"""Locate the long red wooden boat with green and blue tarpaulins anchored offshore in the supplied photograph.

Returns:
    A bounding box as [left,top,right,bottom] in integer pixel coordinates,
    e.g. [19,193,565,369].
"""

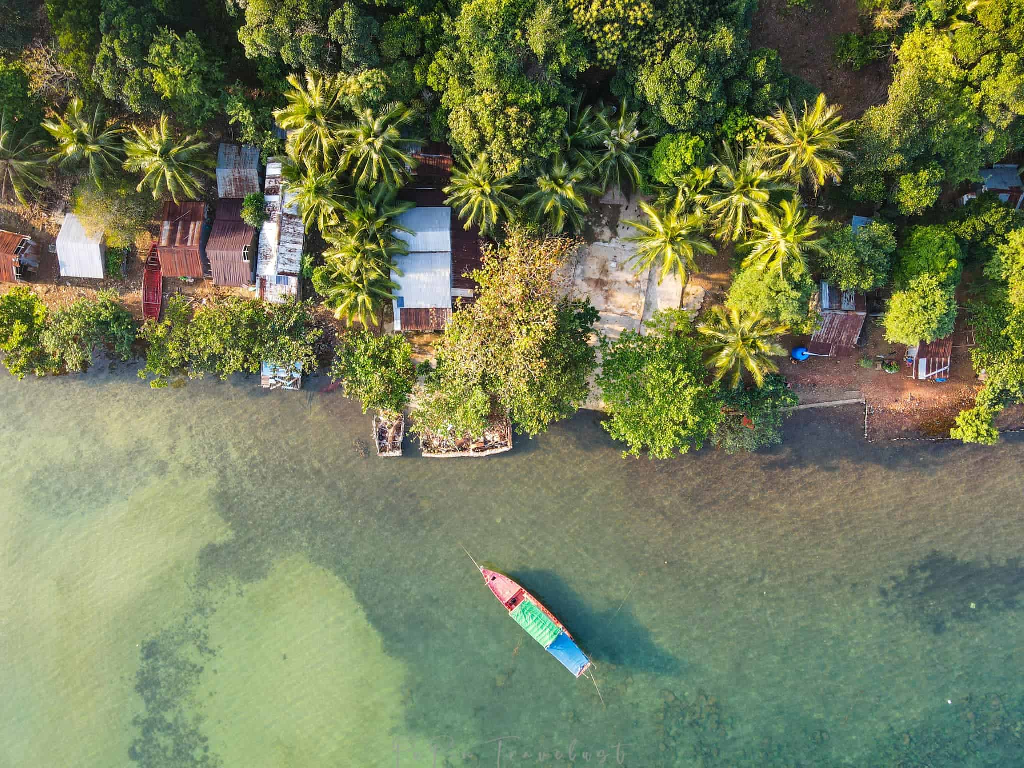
[480,564,596,682]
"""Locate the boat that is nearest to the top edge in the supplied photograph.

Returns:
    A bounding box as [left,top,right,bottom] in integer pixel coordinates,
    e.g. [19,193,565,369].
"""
[139,241,163,325]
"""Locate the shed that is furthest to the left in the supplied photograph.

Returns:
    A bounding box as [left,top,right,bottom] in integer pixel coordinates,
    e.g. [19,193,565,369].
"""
[0,231,46,283]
